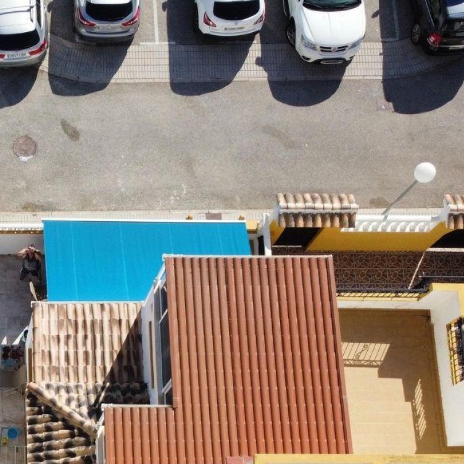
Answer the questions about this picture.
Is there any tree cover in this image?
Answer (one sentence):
No, no tree cover is visible.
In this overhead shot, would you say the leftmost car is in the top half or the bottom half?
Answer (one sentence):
Seen from above, the leftmost car lies in the top half of the view.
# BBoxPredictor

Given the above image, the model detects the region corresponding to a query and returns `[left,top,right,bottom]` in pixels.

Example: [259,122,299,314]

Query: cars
[193,0,264,39]
[288,0,373,65]
[0,0,50,69]
[405,0,464,60]
[73,0,139,45]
